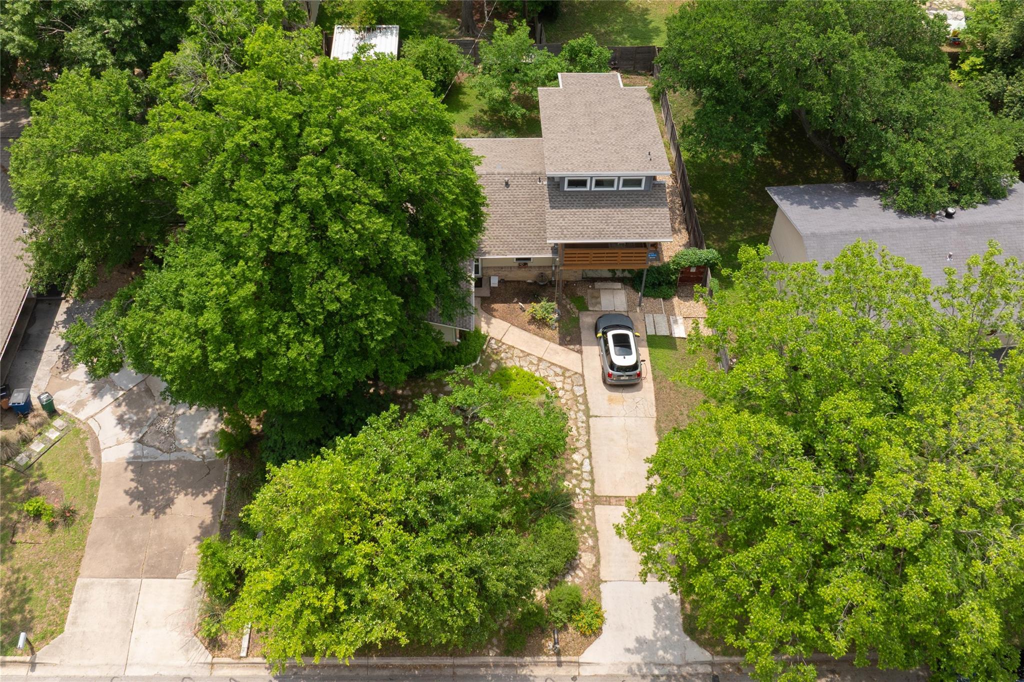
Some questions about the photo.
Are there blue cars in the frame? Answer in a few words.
No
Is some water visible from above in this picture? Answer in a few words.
No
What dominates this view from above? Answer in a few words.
trees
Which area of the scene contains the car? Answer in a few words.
center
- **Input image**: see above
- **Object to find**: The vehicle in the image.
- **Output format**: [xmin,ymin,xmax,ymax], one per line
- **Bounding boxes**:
[593,313,646,389]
